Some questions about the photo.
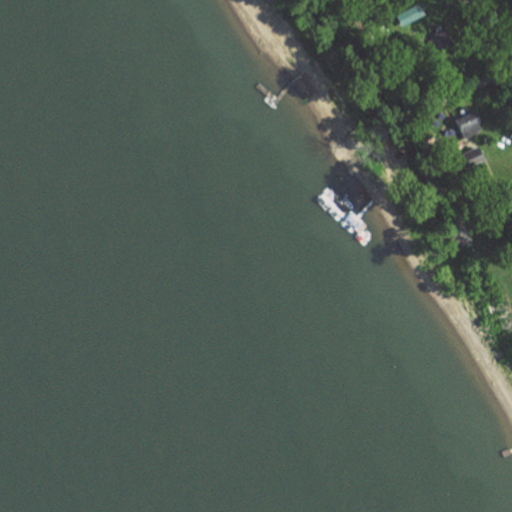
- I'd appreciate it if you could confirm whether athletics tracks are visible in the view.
No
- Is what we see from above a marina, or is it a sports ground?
marina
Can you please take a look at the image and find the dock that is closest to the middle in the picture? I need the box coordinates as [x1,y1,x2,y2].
[319,186,374,233]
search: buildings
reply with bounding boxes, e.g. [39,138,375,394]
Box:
[459,112,484,138]
[400,4,427,26]
[466,146,487,166]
